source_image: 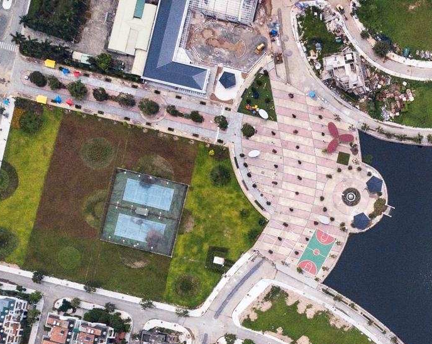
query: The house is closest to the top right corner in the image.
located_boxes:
[323,51,366,98]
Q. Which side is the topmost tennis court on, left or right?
left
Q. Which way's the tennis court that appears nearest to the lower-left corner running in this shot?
from left to right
